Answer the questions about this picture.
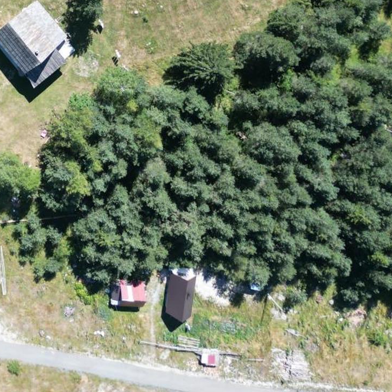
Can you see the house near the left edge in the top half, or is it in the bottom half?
top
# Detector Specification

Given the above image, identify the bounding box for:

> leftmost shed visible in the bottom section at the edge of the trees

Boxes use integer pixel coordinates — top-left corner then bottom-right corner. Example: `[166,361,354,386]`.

[110,276,146,307]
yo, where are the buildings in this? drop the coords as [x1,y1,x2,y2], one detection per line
[110,276,146,307]
[201,347,219,366]
[0,1,74,87]
[164,271,197,323]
